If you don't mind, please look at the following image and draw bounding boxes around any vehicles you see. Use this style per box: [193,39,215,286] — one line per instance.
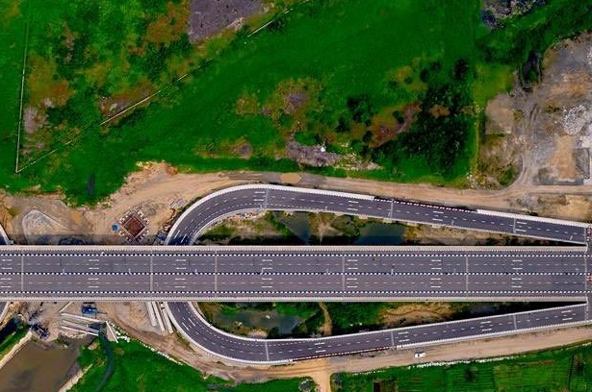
[80,307,106,315]
[27,316,48,339]
[415,351,429,358]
